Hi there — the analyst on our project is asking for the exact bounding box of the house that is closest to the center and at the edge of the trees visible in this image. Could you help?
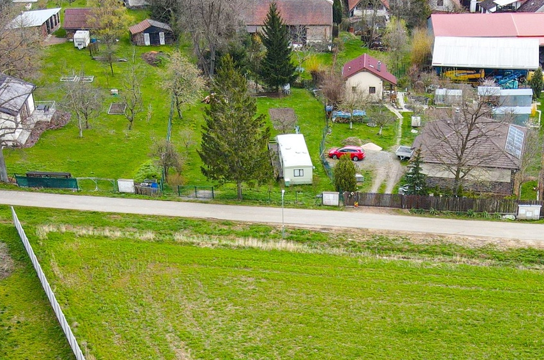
[265,129,313,185]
